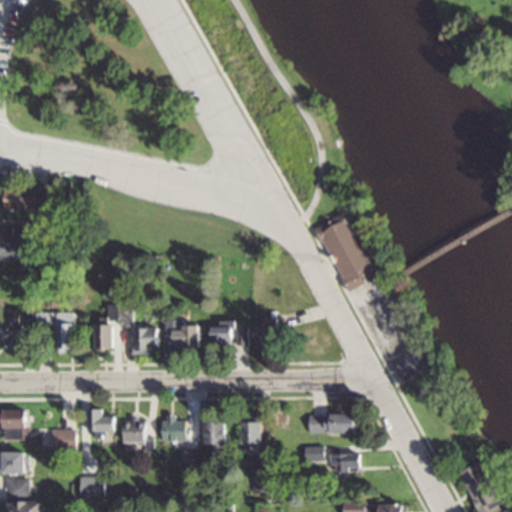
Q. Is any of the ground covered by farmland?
No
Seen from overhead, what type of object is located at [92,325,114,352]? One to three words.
house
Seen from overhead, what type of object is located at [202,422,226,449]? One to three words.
house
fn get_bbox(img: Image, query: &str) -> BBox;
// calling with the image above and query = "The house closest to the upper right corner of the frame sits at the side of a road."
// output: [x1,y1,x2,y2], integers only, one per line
[322,213,373,288]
